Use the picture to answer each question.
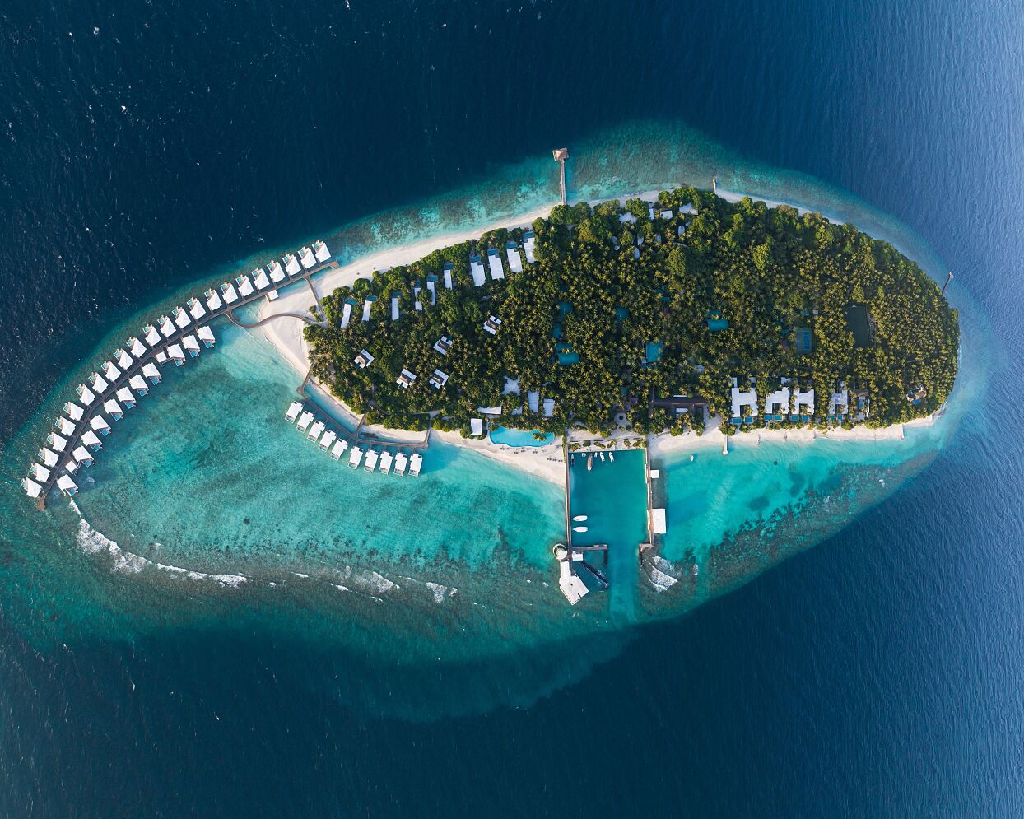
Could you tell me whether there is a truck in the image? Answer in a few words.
No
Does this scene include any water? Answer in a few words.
Yes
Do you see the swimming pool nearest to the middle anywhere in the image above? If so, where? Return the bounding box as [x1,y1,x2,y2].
[489,424,555,447]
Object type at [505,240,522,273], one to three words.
house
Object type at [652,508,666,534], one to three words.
building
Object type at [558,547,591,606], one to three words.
building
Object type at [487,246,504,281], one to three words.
house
